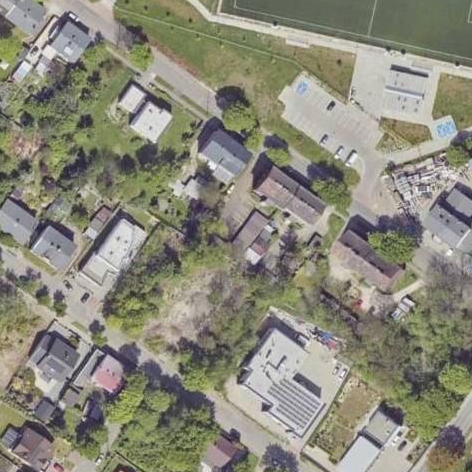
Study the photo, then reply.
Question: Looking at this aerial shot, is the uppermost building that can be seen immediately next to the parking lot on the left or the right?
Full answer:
The uppermost building that can be seen immediately next to the parking lot is on the right side of the image.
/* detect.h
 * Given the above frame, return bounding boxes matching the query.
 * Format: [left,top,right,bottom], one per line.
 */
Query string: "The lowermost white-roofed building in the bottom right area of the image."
[334,430,371,471]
